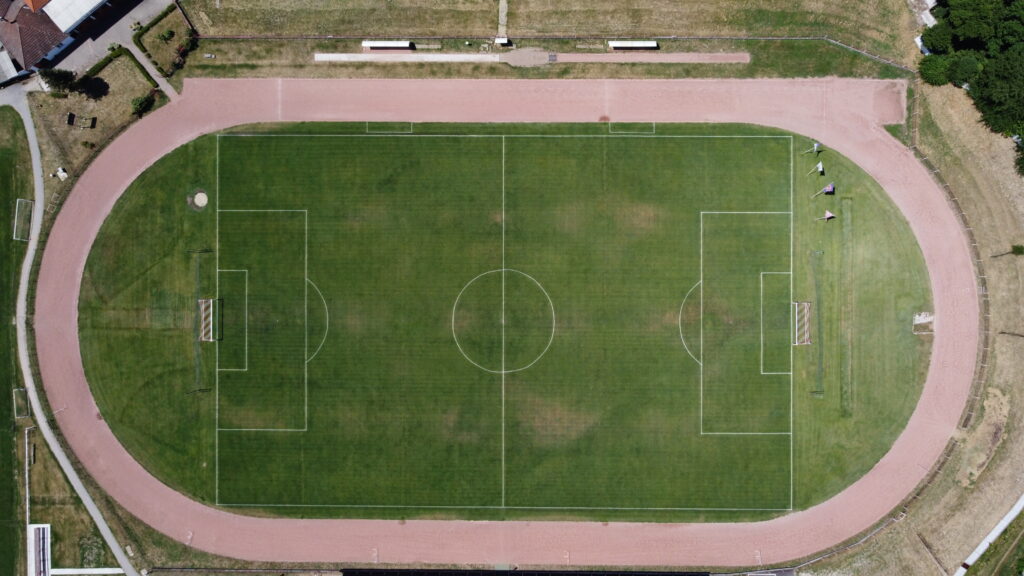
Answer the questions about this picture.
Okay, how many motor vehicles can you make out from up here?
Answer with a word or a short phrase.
one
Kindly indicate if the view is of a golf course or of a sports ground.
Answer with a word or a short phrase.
sports ground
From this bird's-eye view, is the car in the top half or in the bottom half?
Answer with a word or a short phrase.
top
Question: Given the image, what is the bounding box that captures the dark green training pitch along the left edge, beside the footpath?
[0,106,23,576]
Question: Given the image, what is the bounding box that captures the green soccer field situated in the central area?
[216,123,792,511]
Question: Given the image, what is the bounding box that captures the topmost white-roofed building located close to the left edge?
[41,0,134,41]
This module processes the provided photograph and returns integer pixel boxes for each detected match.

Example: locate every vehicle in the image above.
[914,31,935,57]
